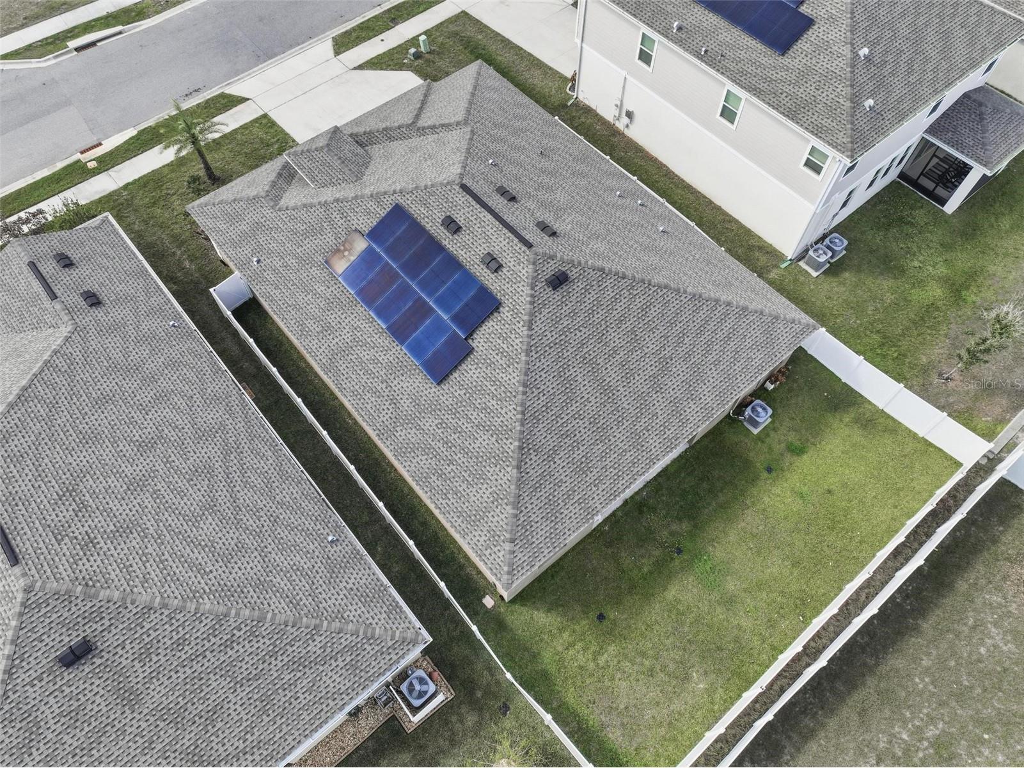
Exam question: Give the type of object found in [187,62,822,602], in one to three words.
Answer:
house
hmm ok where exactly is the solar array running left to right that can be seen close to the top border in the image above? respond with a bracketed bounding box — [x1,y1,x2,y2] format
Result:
[694,0,813,54]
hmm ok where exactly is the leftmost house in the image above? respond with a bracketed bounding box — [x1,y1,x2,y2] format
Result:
[0,210,436,768]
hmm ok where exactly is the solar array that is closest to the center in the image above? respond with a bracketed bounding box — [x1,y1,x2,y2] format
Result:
[324,204,497,383]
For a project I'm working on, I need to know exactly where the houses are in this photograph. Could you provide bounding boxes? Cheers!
[571,0,1024,260]
[0,210,436,768]
[187,62,822,602]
